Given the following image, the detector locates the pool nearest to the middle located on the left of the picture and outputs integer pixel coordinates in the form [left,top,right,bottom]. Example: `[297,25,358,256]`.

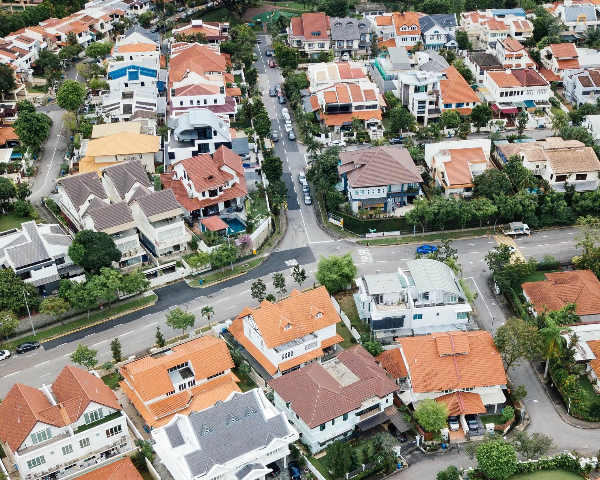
[222,216,246,233]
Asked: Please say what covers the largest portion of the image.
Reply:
buildings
